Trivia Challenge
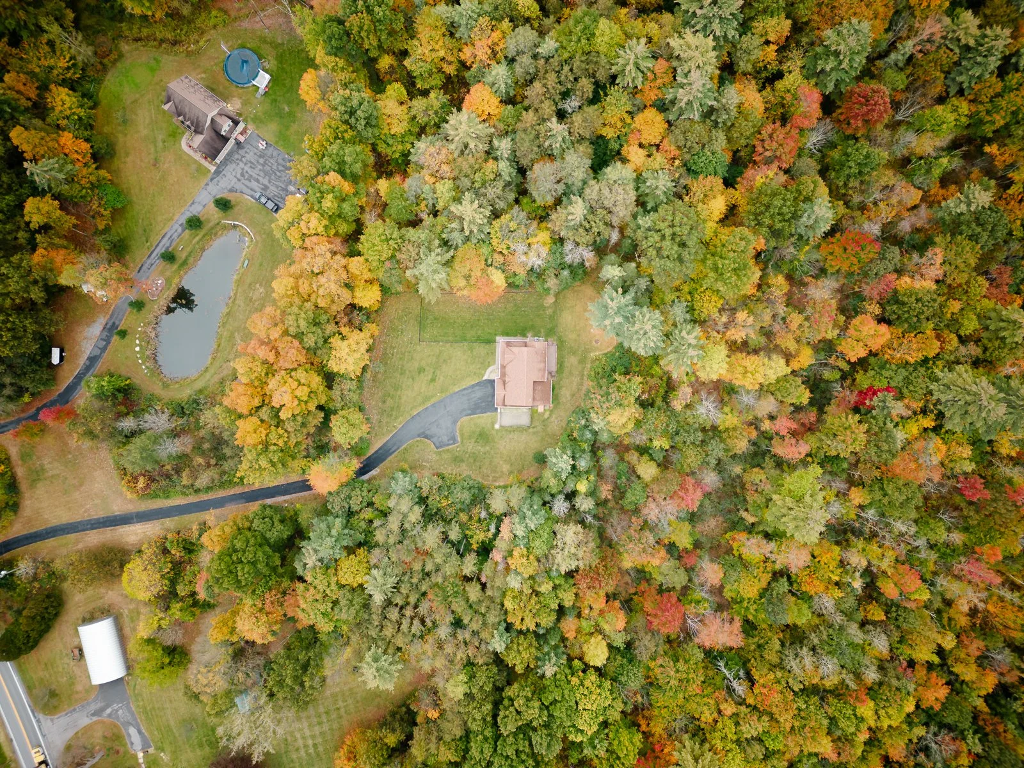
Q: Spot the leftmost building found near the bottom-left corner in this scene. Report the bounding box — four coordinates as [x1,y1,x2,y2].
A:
[75,616,128,687]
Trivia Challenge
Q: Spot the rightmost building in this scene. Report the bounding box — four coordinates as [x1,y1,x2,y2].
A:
[495,339,553,407]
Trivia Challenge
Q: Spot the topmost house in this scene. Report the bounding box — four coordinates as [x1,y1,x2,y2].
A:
[162,74,249,164]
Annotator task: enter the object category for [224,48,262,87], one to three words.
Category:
swimming pool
